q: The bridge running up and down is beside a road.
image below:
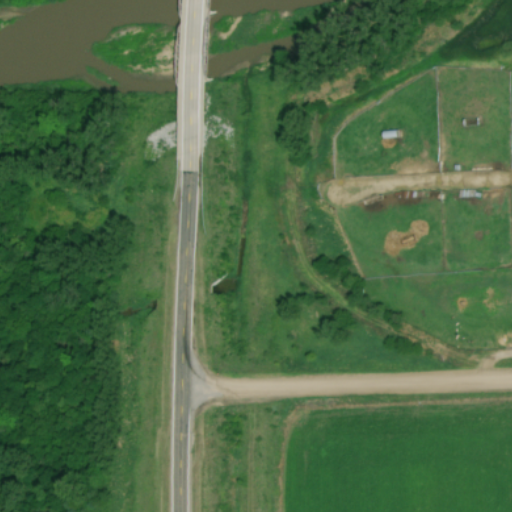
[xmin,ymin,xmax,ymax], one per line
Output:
[176,0,215,172]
